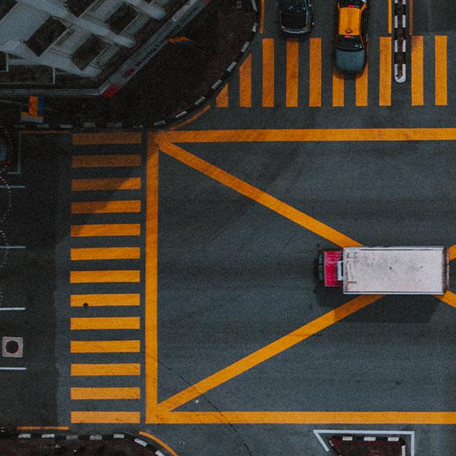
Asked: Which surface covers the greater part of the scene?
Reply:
paved ground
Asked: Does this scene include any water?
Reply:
No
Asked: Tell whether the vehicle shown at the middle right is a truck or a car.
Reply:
truck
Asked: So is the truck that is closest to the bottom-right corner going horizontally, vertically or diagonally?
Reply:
horizontally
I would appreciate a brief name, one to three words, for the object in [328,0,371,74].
car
